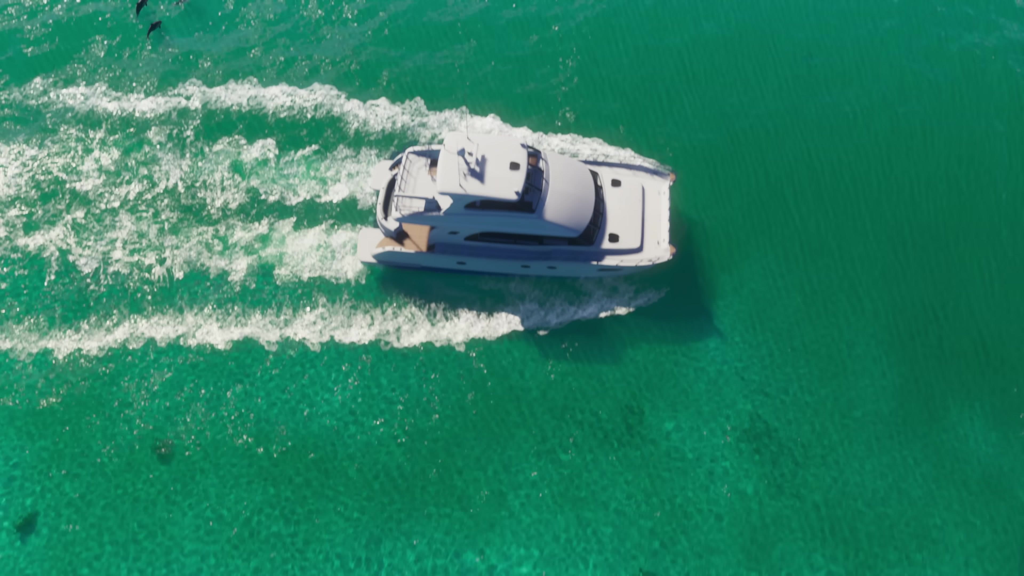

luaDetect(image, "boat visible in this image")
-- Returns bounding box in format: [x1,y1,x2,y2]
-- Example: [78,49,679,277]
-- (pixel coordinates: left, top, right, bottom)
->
[356,110,677,276]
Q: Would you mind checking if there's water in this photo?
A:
Yes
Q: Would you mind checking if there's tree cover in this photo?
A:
No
